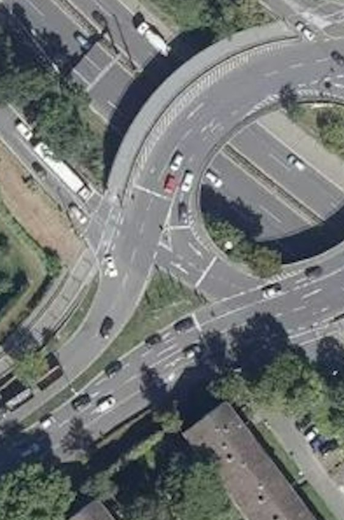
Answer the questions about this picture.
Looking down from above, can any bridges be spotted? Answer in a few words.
Yes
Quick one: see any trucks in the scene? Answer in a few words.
Yes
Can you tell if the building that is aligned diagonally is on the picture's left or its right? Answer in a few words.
right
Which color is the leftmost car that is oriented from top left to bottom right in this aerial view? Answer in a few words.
white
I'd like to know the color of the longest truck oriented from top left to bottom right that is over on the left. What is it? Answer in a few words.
white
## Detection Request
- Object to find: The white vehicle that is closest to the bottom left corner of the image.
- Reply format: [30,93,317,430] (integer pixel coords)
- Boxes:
[37,415,57,432]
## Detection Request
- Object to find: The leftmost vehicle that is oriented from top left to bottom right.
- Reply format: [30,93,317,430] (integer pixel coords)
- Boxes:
[13,122,33,143]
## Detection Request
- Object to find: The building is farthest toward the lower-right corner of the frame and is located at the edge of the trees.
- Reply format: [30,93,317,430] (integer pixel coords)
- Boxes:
[183,403,315,520]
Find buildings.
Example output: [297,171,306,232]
[183,403,315,520]
[66,501,111,520]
